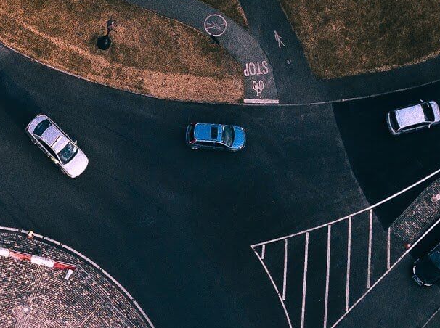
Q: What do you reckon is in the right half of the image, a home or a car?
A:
car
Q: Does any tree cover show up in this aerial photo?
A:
No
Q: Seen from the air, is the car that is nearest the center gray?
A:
No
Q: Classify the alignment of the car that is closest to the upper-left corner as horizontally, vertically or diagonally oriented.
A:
diagonally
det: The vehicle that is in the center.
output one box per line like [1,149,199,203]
[186,120,246,153]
